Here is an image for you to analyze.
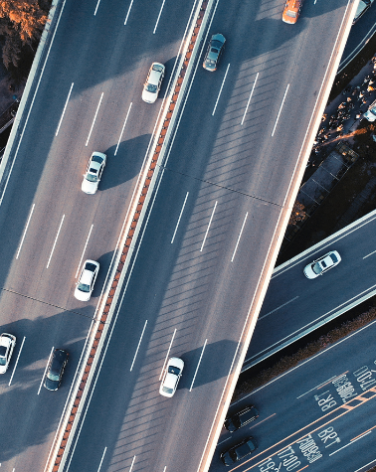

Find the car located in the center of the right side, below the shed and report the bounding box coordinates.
[302,249,342,279]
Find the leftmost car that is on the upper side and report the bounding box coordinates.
[80,149,107,195]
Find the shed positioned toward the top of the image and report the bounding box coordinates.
[295,148,356,218]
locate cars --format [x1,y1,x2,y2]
[42,346,67,389]
[140,60,167,106]
[351,0,376,30]
[278,0,305,31]
[224,403,262,433]
[80,149,107,195]
[74,259,99,301]
[159,357,184,400]
[302,249,342,279]
[200,30,227,76]
[0,331,17,374]
[360,96,376,125]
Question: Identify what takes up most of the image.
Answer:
paved ground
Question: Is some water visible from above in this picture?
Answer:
No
